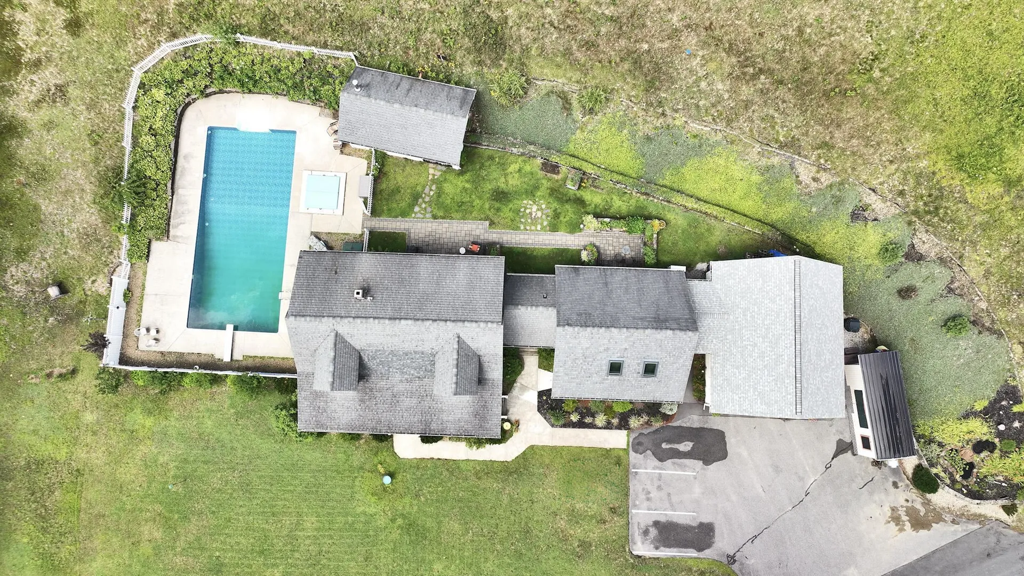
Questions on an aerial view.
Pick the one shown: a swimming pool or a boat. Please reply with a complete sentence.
The one in the frame is a swimming pool.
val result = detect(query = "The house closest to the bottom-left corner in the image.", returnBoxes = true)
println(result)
[284,249,509,439]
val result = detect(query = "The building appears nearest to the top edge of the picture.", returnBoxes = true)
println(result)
[338,65,478,174]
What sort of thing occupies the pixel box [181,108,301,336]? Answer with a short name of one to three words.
swimming pool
